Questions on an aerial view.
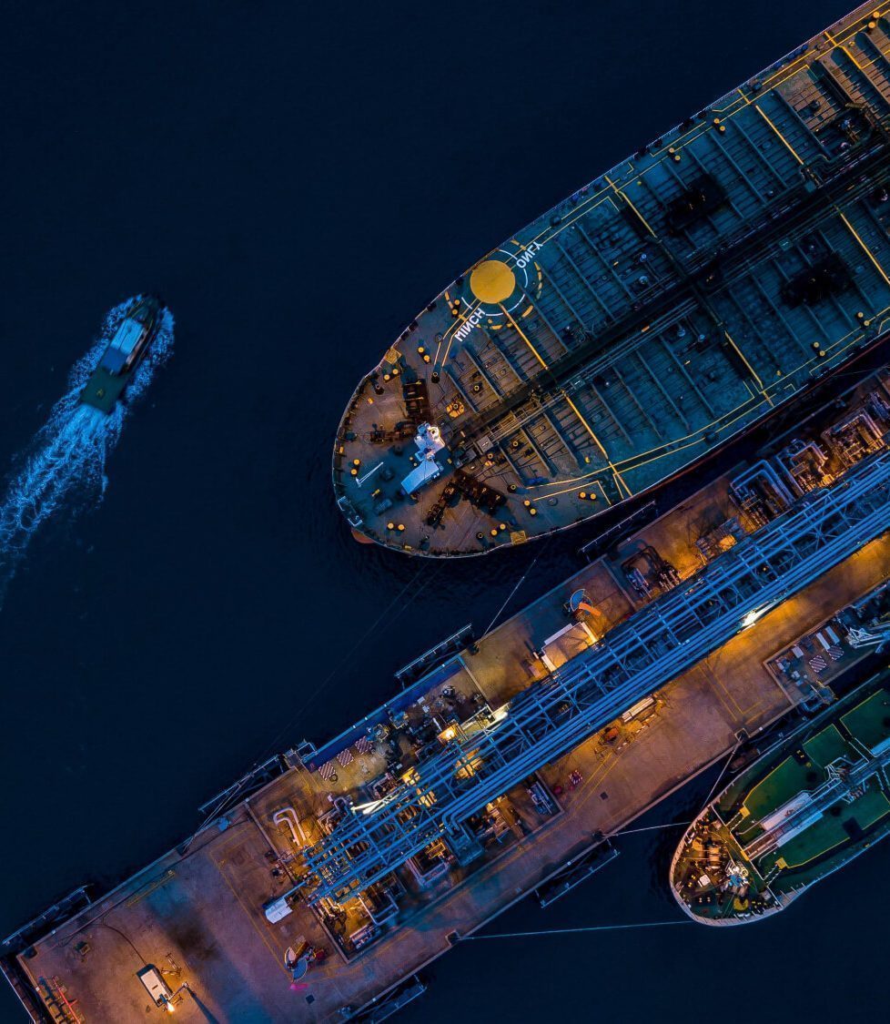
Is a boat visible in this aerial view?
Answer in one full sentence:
Yes, the photo shows a boat.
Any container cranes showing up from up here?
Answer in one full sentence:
No, I can't see a single container crane in this photo.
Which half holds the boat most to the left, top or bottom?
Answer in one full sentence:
The boat most to the left is in the top half of the image.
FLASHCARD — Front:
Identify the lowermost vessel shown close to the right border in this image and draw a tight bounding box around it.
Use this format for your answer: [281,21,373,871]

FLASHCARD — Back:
[670,657,890,926]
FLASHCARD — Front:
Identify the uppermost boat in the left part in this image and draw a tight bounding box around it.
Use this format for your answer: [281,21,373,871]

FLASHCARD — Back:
[80,293,162,415]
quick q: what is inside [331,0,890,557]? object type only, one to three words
ship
